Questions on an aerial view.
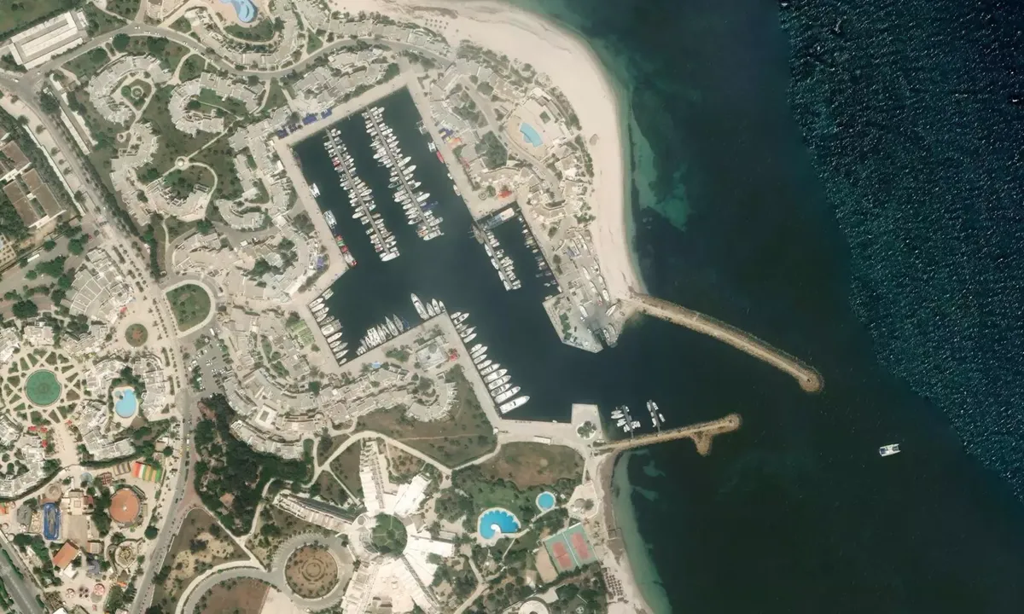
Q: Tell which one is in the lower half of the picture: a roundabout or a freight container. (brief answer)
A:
roundabout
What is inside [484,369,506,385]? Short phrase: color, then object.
white boat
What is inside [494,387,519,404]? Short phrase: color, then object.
white boat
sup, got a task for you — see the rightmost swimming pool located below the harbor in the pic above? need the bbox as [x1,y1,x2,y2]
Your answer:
[536,492,556,512]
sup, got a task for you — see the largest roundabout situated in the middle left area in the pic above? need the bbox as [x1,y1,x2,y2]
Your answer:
[167,283,212,338]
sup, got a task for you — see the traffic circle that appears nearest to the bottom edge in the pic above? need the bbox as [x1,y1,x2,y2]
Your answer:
[273,531,352,609]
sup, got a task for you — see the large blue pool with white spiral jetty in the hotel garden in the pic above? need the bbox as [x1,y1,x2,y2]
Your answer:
[477,508,521,541]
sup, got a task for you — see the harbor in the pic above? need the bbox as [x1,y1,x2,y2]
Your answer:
[283,74,602,460]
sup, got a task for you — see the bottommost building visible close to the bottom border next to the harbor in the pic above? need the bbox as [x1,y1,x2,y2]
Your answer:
[273,441,455,614]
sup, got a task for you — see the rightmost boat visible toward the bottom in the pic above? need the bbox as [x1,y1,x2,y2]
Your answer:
[878,443,900,457]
